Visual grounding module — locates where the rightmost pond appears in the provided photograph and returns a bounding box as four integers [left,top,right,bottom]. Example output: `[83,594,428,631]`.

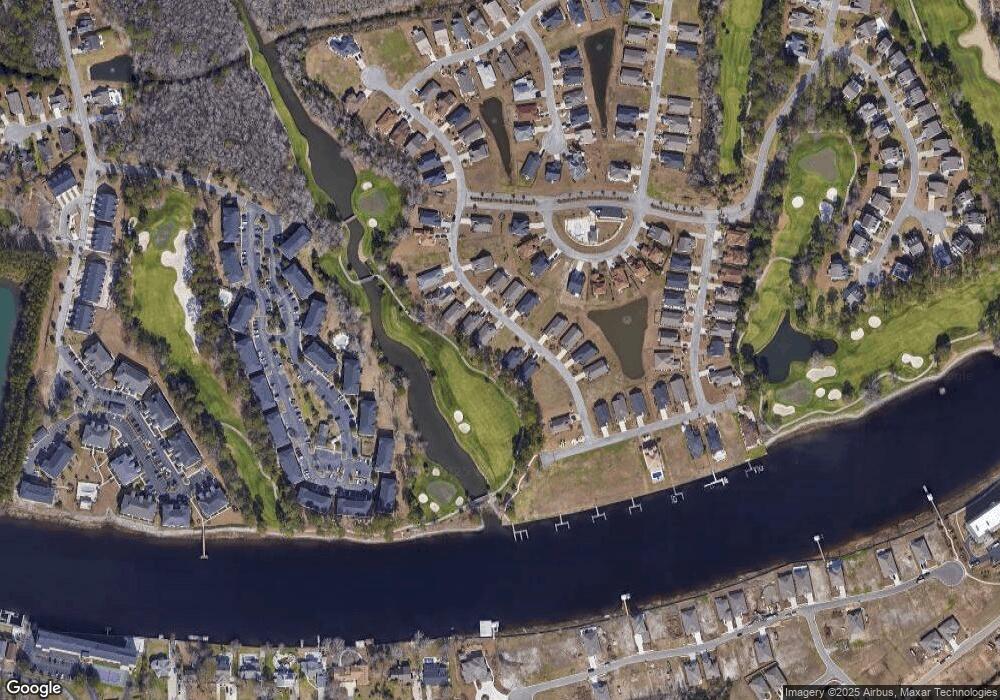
[756,310,838,383]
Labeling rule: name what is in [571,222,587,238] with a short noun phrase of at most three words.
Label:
swimming pool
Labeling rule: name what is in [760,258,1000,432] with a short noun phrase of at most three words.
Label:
golf course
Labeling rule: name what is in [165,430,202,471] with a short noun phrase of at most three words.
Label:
building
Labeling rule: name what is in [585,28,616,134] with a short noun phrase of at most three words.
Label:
pond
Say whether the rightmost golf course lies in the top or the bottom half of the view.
top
